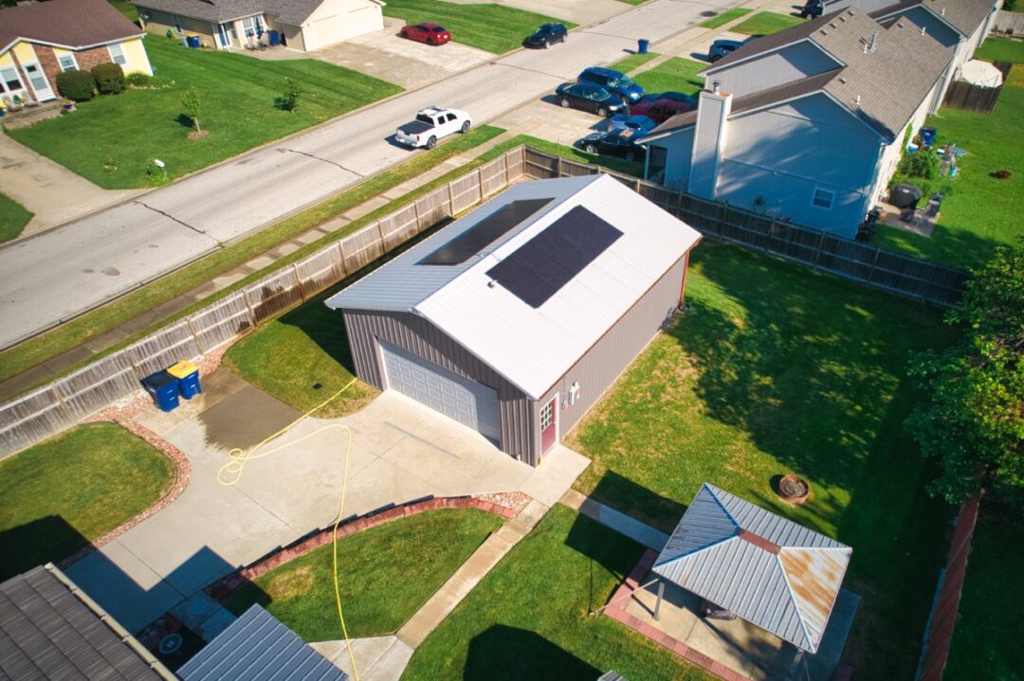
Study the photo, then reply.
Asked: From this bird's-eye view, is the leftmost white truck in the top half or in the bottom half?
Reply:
top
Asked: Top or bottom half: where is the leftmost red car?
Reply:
top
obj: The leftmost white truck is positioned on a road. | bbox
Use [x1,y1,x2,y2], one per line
[388,105,468,151]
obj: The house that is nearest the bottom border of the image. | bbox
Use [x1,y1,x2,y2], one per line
[0,558,178,681]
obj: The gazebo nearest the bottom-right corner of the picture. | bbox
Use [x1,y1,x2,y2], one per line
[652,483,855,681]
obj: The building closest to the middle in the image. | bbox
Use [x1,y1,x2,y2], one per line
[322,172,706,467]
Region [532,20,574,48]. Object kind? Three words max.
car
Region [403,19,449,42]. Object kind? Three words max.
car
